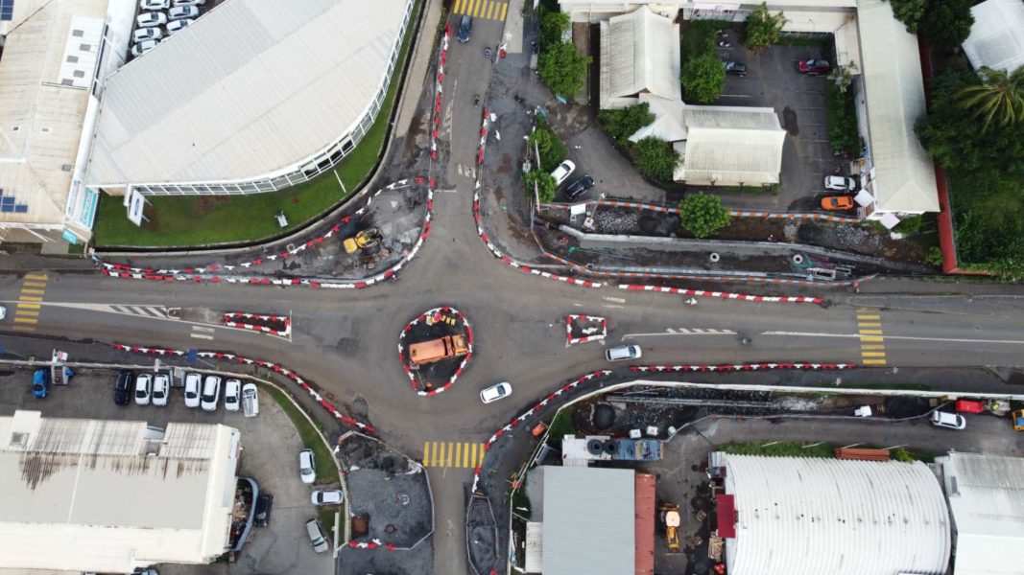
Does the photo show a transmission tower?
No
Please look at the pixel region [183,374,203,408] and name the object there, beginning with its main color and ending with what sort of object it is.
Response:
white car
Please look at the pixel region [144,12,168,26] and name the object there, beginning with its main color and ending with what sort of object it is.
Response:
white car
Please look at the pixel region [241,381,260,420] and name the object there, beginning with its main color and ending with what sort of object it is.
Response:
white vehicle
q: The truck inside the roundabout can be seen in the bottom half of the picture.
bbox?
[407,331,468,369]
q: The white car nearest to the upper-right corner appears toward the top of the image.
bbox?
[824,175,856,191]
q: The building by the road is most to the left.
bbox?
[0,0,109,242]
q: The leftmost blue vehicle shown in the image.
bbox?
[30,369,49,400]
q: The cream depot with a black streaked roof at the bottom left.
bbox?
[0,411,242,573]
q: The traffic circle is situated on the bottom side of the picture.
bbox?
[400,308,470,394]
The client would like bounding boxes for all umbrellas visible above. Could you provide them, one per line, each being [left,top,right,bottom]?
[878,212,900,231]
[853,188,872,208]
